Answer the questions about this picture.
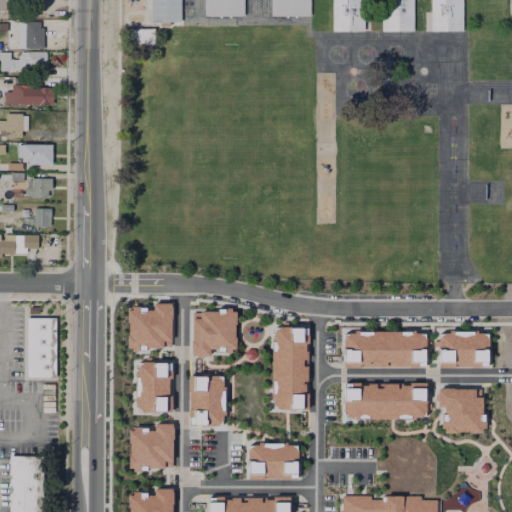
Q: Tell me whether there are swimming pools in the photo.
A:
No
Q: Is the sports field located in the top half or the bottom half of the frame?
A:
top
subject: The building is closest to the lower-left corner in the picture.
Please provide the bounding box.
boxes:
[10,448,44,512]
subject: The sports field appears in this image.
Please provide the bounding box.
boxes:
[114,0,512,282]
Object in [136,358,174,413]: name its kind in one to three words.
building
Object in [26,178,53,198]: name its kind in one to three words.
house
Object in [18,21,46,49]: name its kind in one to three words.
house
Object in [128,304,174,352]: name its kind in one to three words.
building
